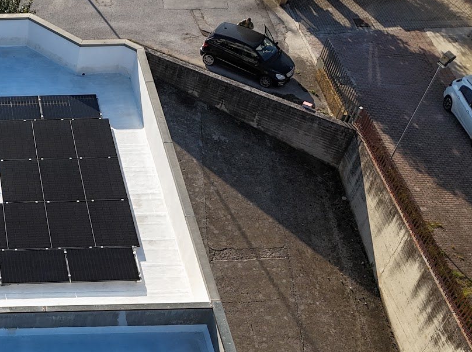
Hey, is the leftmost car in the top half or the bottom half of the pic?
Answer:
top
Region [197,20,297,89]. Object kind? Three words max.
car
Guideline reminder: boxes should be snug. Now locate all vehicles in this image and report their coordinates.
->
[445,80,472,137]
[197,20,297,89]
